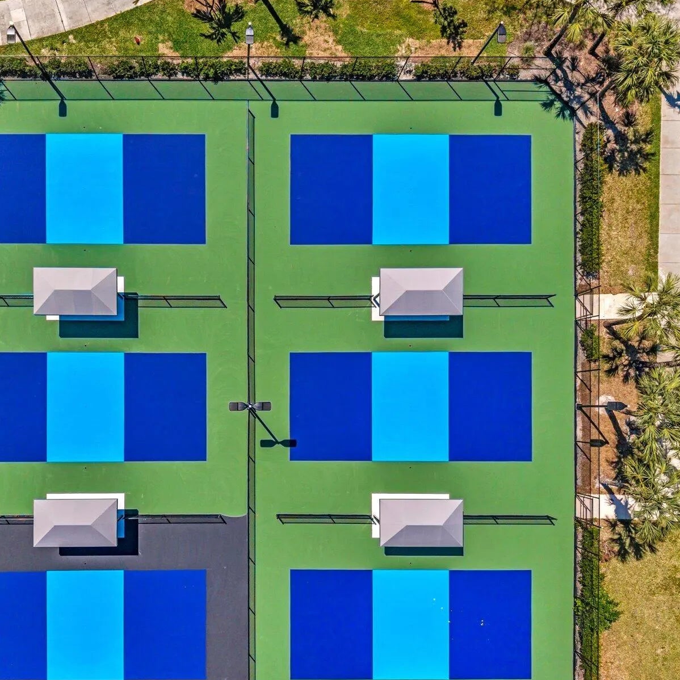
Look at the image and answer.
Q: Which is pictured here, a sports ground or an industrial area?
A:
sports ground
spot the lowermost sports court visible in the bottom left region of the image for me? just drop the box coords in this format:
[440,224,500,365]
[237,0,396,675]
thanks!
[0,564,205,680]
